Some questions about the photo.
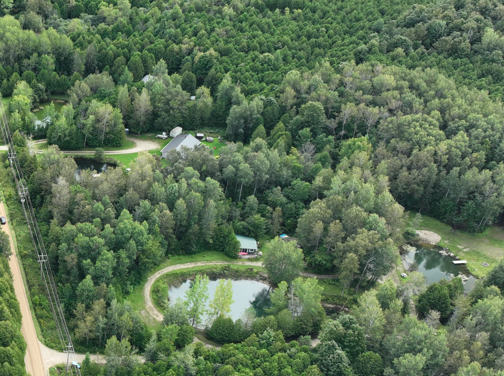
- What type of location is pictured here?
forest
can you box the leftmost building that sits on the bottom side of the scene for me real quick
[233,232,260,257]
